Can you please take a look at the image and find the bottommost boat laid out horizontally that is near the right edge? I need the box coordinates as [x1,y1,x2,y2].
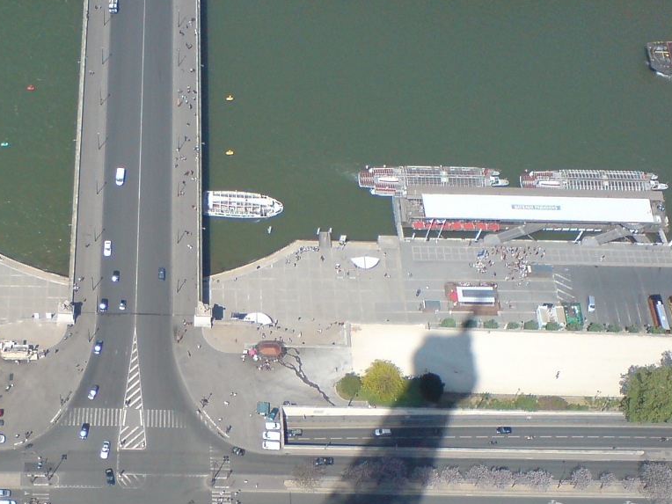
[522,167,671,197]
